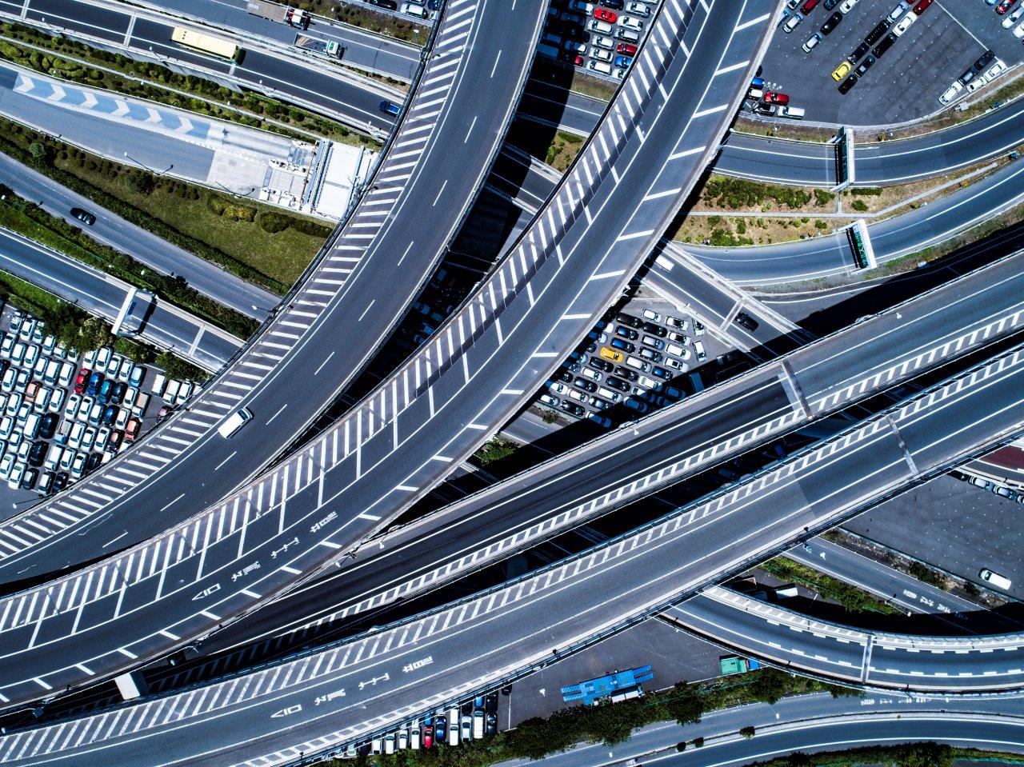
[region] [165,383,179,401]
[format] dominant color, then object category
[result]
white vehicle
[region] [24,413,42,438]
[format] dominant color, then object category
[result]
white vehicle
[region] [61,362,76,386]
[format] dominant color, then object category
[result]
white car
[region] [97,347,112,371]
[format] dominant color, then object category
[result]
white car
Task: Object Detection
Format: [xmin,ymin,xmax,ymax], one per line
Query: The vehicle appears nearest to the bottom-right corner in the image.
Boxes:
[978,567,1013,589]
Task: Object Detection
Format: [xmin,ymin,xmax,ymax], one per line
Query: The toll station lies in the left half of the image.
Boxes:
[257,138,377,222]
